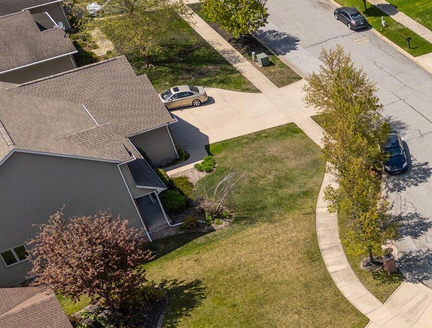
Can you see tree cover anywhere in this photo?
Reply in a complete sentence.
Yes, tree cover shows up in the scene.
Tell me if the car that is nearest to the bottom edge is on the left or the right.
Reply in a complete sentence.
You can find the car that is nearest to the bottom edge on the right side of the picture.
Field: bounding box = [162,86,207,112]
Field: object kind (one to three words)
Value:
car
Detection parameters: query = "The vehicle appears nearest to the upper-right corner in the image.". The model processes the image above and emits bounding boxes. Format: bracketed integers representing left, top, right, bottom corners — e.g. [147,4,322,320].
[333,3,368,26]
